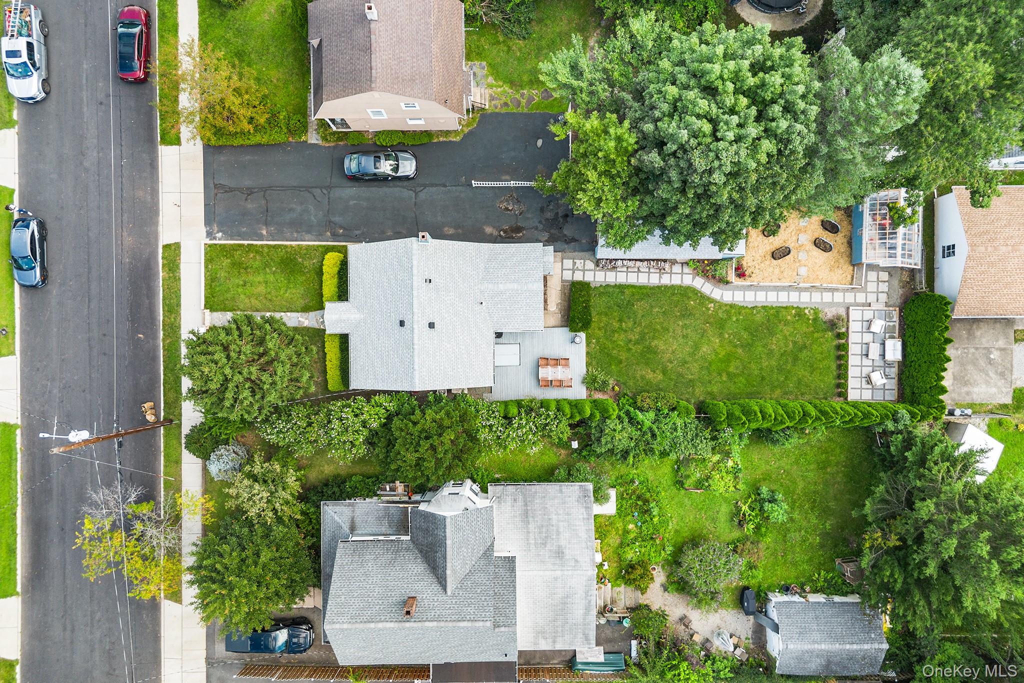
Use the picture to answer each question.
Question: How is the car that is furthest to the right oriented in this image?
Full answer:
The car that is furthest to the right is oriented from side to side.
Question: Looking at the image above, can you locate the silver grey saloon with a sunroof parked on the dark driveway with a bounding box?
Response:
[344,147,417,182]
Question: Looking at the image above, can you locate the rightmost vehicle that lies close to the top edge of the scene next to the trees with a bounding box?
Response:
[108,4,151,82]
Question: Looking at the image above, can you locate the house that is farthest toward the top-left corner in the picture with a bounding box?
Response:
[306,0,489,126]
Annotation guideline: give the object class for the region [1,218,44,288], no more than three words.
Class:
car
